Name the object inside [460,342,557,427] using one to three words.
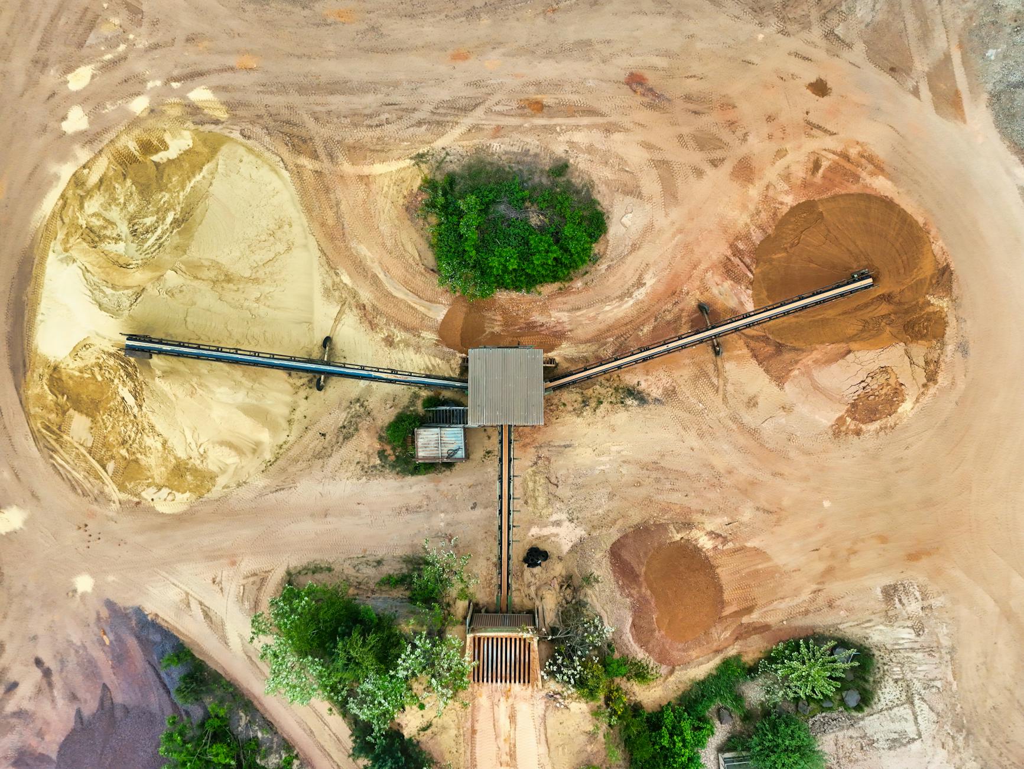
shed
